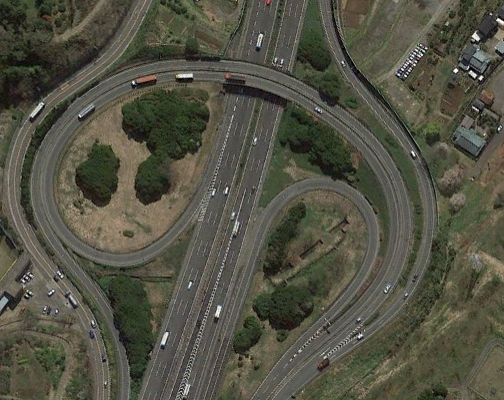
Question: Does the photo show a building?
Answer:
Yes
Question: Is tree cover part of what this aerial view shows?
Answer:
Yes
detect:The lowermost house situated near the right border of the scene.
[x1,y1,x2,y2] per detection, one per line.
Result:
[451,123,488,156]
